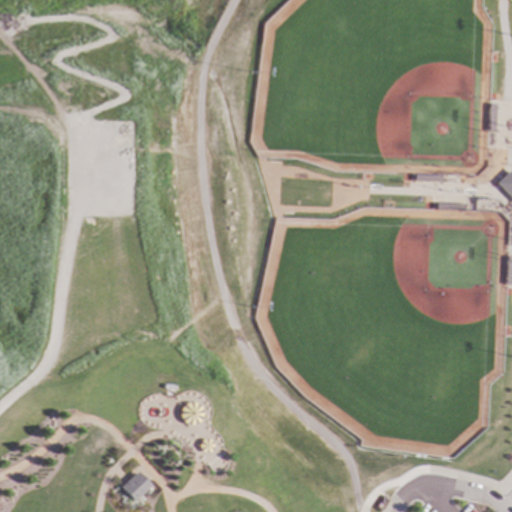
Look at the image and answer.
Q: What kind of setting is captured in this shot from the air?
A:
sports ground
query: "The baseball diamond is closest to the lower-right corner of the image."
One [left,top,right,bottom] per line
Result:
[259,207,508,458]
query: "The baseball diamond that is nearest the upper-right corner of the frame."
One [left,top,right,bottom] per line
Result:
[252,0,492,174]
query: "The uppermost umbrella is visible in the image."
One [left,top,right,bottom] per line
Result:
[184,402,206,426]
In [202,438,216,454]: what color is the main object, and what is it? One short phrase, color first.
white umbrella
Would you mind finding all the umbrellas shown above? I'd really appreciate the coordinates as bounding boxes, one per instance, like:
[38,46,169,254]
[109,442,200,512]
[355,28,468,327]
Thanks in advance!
[184,402,206,426]
[202,438,216,454]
